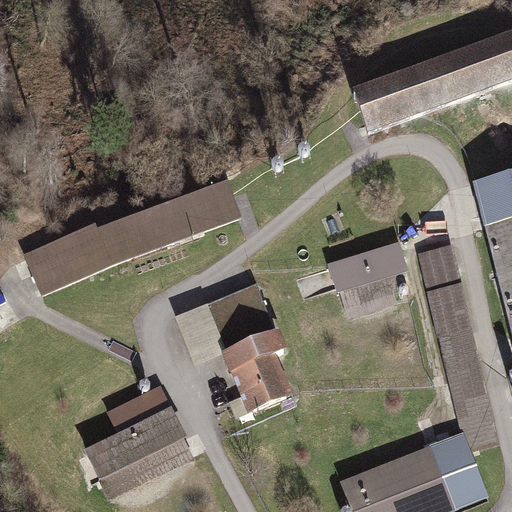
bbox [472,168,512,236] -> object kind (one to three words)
barn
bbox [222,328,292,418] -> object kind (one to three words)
house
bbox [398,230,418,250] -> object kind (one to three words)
work vehicle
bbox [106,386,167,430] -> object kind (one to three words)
shed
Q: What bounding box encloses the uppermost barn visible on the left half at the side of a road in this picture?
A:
[24,180,242,298]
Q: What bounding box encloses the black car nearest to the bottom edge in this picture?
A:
[208,382,226,410]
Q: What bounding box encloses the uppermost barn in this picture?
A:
[353,29,512,137]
